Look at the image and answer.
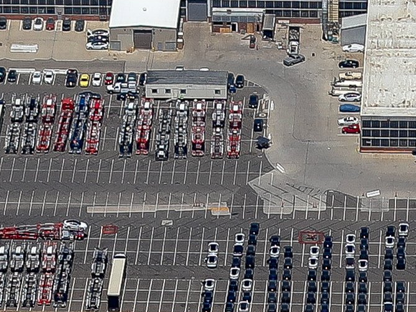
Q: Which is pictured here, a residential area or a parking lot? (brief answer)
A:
parking lot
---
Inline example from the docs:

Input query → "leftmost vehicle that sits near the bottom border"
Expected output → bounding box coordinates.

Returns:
[107,252,126,309]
